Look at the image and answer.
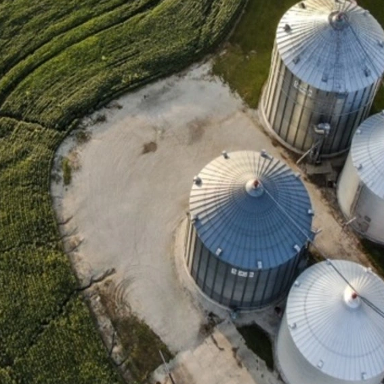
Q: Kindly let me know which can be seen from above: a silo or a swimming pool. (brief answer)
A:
silo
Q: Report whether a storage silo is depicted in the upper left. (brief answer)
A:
No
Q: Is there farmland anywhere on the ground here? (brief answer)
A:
Yes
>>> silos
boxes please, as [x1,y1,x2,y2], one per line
[260,0,384,157]
[178,149,316,313]
[272,259,384,384]
[335,110,384,245]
